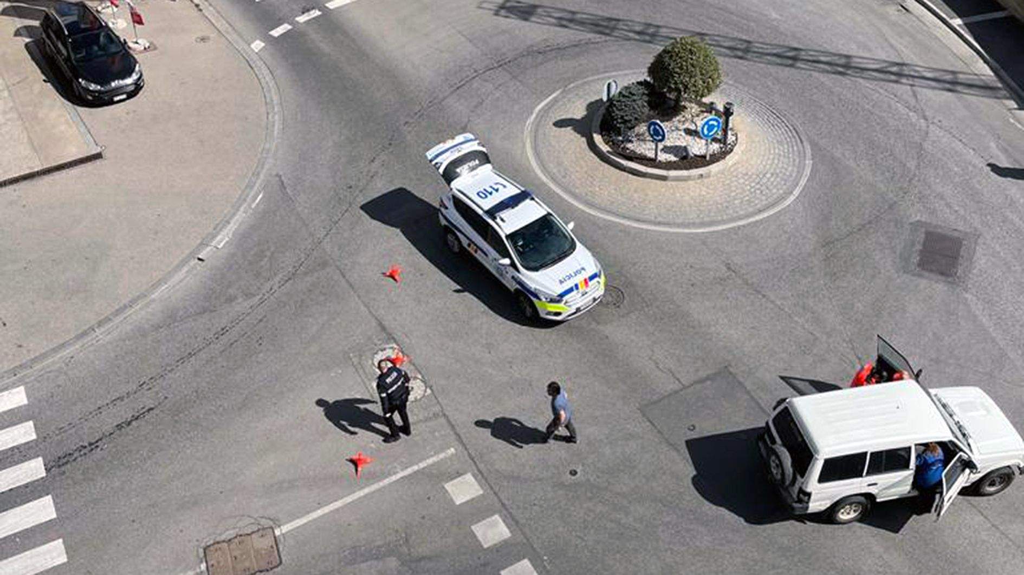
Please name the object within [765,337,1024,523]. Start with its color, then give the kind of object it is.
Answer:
white car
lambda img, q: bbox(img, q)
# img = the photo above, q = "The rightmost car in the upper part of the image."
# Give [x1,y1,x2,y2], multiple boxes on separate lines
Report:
[423,130,607,327]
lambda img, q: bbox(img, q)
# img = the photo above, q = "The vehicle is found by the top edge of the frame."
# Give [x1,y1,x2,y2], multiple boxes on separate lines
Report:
[37,0,151,109]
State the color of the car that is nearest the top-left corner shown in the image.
black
